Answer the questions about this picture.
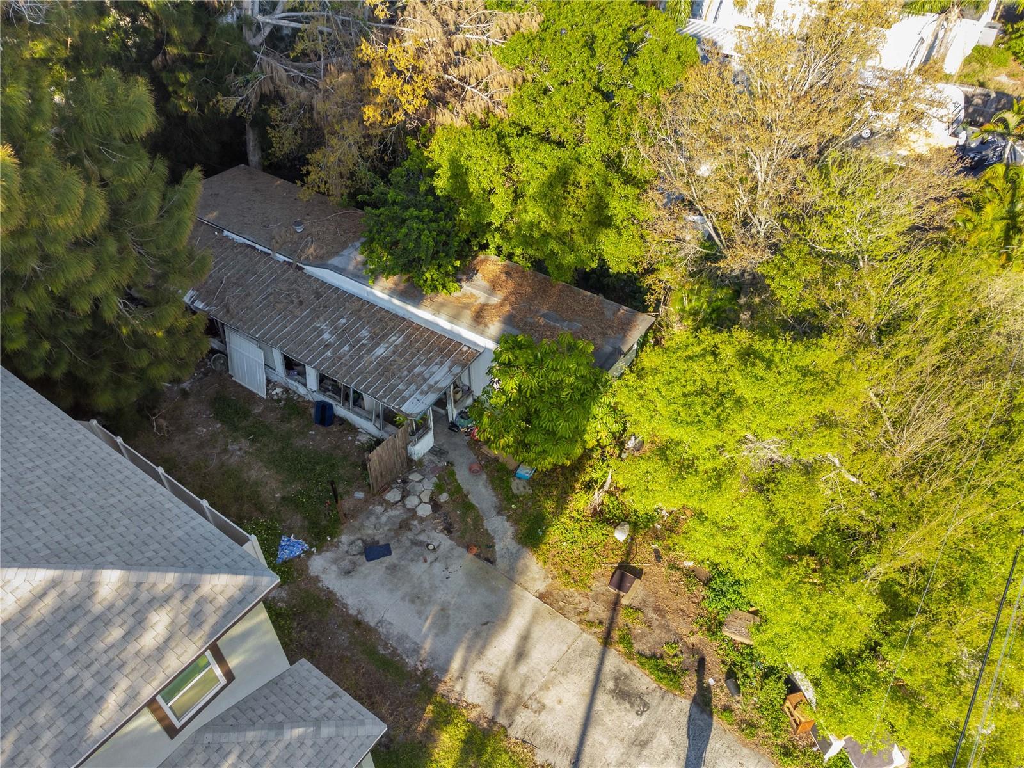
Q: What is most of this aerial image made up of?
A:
trees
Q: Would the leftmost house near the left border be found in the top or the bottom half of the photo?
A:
bottom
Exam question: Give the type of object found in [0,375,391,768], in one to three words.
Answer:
house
